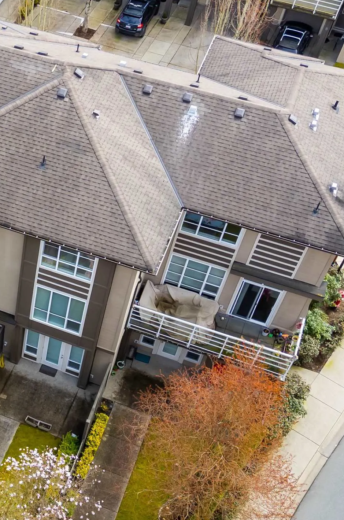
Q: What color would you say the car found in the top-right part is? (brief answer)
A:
black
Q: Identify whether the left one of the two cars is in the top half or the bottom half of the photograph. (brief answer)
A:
top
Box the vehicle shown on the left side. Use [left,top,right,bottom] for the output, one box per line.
[115,0,159,36]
